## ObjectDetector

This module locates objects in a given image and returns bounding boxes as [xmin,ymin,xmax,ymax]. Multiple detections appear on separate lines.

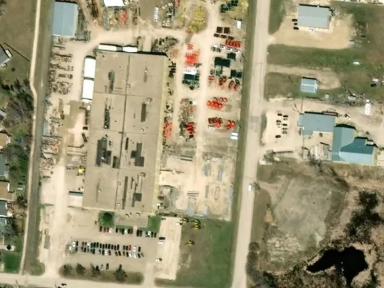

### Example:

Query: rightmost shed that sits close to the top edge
[296,5,332,29]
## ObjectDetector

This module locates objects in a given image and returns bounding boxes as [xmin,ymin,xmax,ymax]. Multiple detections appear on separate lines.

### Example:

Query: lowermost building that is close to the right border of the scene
[298,114,377,166]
